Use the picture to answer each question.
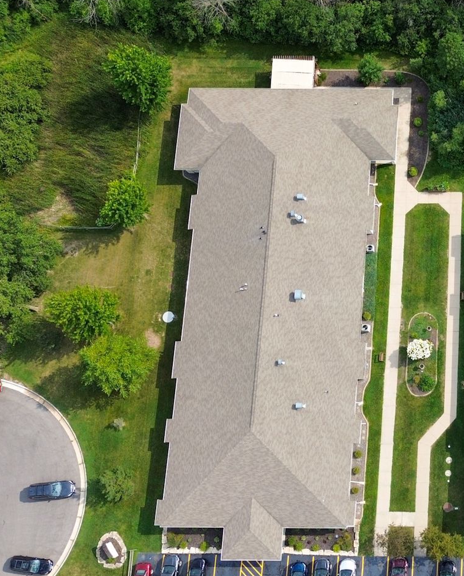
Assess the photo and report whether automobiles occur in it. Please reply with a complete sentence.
Yes, an automobile can be made out from above.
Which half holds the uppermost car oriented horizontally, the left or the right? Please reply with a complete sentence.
The uppermost car oriented horizontally sits on the left side.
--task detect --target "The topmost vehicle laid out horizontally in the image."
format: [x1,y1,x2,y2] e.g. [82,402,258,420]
[27,480,77,501]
